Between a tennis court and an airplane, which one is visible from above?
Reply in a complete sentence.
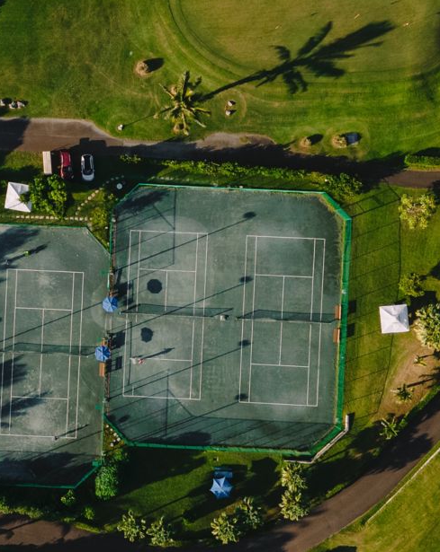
There is a tennis court in the scene.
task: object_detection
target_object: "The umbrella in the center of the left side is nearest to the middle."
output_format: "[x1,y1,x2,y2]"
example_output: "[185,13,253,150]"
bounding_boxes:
[103,296,119,312]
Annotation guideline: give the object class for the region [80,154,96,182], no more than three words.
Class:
car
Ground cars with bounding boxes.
[80,154,96,182]
[59,150,74,174]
